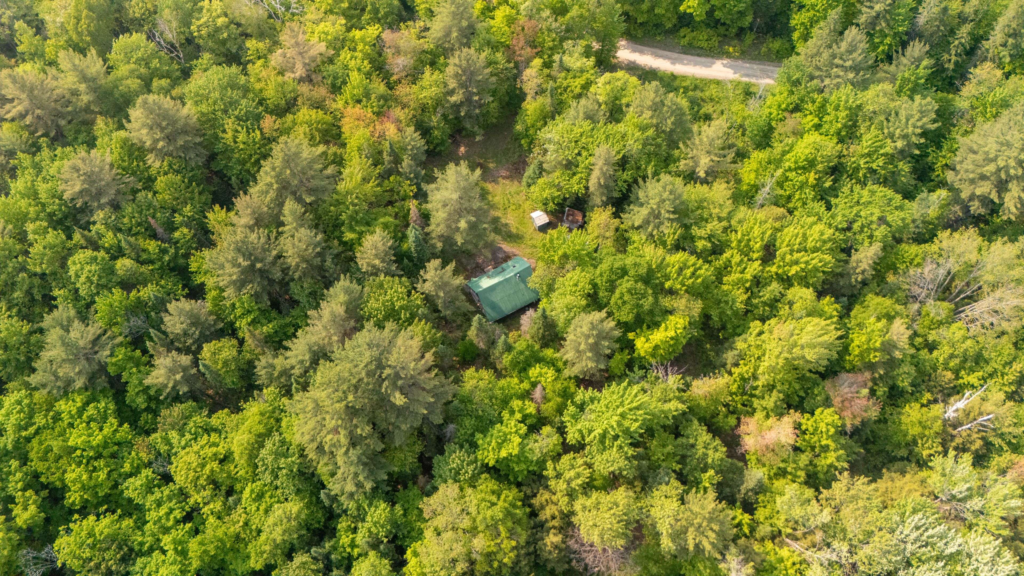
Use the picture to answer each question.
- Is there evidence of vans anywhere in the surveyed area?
No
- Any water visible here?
No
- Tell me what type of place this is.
forest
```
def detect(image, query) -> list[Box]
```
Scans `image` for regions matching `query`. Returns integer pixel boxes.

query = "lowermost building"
[469,257,537,323]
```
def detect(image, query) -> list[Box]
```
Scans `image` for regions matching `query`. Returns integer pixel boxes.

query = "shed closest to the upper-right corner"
[562,208,584,230]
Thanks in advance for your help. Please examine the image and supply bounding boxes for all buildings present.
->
[530,210,549,230]
[562,208,584,230]
[469,257,537,323]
